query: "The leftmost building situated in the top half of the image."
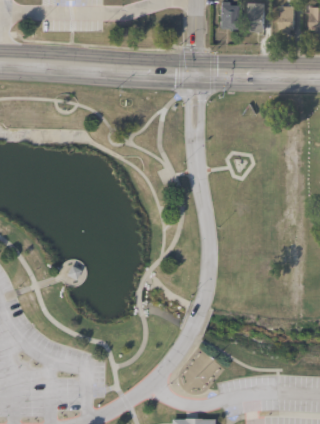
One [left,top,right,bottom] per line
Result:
[221,2,240,31]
